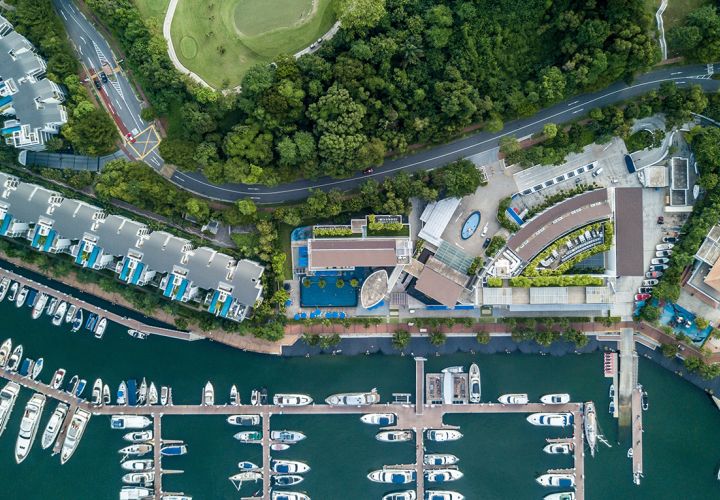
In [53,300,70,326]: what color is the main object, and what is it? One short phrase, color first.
white boat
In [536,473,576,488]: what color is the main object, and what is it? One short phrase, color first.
white boat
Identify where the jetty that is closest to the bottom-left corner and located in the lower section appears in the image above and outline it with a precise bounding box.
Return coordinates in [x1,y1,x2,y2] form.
[0,367,86,455]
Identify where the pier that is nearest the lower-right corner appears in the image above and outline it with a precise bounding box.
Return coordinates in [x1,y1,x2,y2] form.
[631,389,645,473]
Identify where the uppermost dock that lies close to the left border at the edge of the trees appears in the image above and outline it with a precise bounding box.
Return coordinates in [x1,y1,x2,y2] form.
[0,266,207,341]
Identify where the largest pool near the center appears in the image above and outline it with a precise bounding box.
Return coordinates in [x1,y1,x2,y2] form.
[300,268,396,308]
